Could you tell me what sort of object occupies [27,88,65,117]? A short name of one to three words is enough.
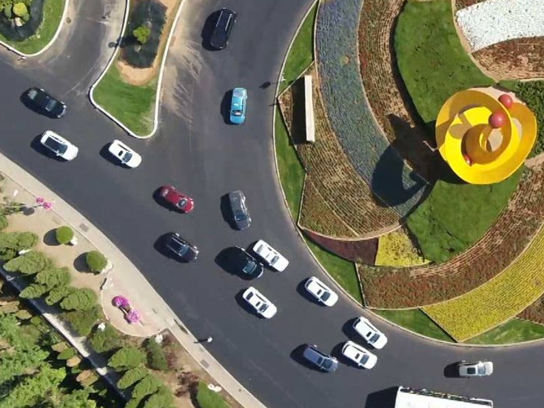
car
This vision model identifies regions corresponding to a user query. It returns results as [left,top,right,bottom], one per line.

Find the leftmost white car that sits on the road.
[40,131,77,160]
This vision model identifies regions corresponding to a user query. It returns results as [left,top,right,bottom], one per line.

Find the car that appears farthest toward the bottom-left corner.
[163,231,200,261]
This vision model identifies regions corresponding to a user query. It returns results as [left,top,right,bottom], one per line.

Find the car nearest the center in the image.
[229,191,251,228]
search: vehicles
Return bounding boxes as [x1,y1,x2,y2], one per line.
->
[396,386,494,408]
[254,242,285,269]
[229,191,251,228]
[352,317,387,349]
[229,88,248,125]
[225,248,262,277]
[157,185,194,213]
[241,287,277,318]
[301,343,340,373]
[341,340,377,370]
[303,276,338,307]
[109,140,142,166]
[456,359,493,378]
[40,131,77,160]
[27,88,65,117]
[163,231,200,261]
